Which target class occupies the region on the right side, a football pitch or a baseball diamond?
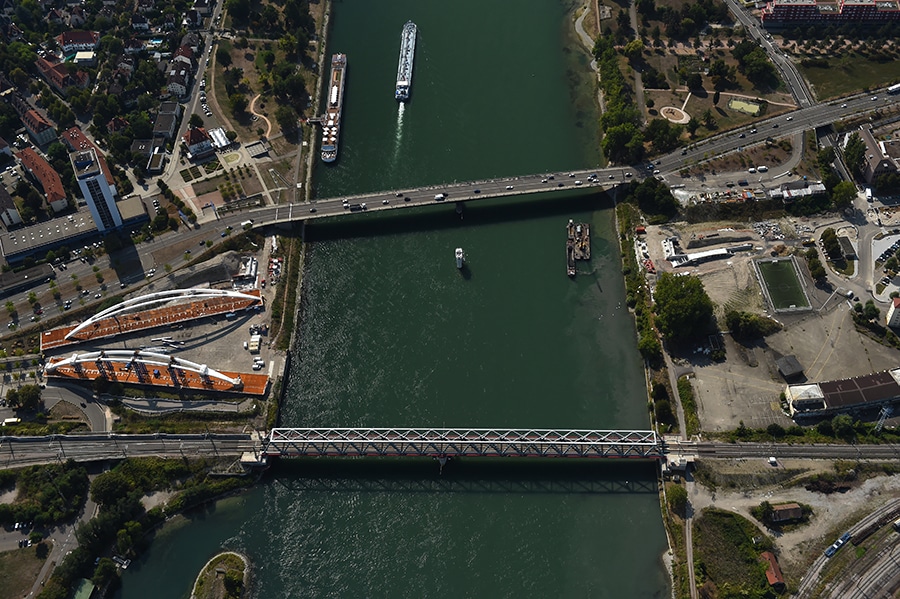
football pitch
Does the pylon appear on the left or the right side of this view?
right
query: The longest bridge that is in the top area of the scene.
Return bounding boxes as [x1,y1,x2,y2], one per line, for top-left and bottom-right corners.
[244,160,659,230]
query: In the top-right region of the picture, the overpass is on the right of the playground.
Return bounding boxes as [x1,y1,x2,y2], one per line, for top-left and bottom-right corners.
[792,104,846,134]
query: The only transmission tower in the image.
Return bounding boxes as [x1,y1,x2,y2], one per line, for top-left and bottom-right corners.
[874,409,900,435]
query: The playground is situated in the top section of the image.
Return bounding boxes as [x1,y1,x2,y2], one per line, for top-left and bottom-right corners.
[659,105,693,126]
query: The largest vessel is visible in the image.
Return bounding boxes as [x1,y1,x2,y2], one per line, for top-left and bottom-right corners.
[323,57,350,166]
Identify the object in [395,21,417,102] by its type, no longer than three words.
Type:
ship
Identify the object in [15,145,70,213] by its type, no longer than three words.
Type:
house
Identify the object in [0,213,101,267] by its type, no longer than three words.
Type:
building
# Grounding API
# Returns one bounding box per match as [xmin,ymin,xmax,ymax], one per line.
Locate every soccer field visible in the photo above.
[753,255,811,313]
